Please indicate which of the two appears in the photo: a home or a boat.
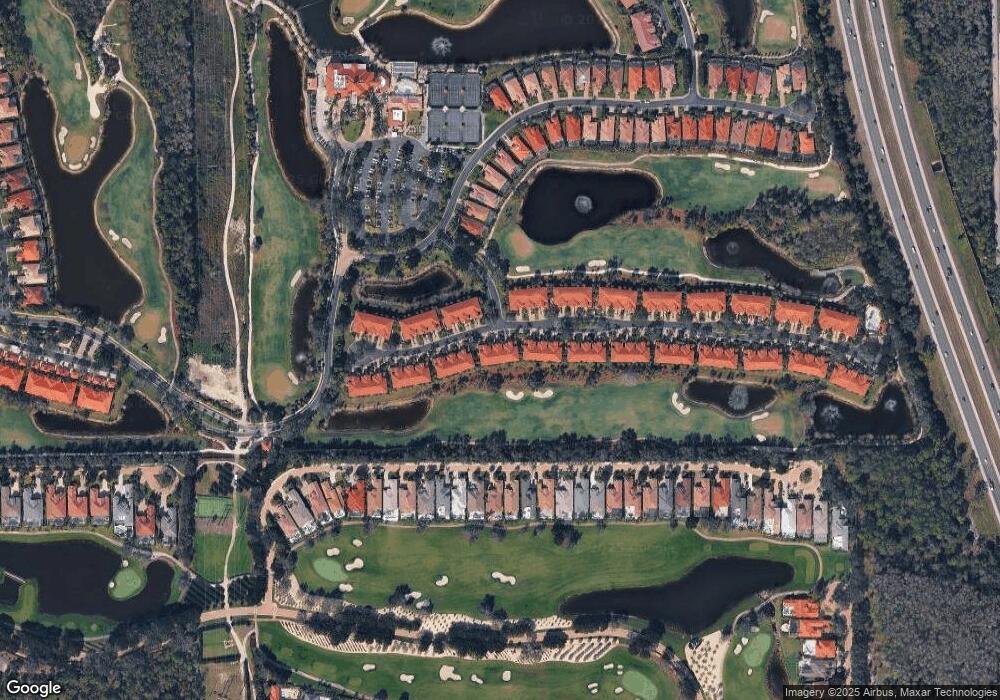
home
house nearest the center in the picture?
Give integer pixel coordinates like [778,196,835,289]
[479,342,520,365]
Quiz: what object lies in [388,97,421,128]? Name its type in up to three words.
building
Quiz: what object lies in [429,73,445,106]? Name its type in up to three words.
tennis court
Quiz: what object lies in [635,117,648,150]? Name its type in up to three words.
house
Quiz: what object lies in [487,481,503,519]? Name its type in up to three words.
house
